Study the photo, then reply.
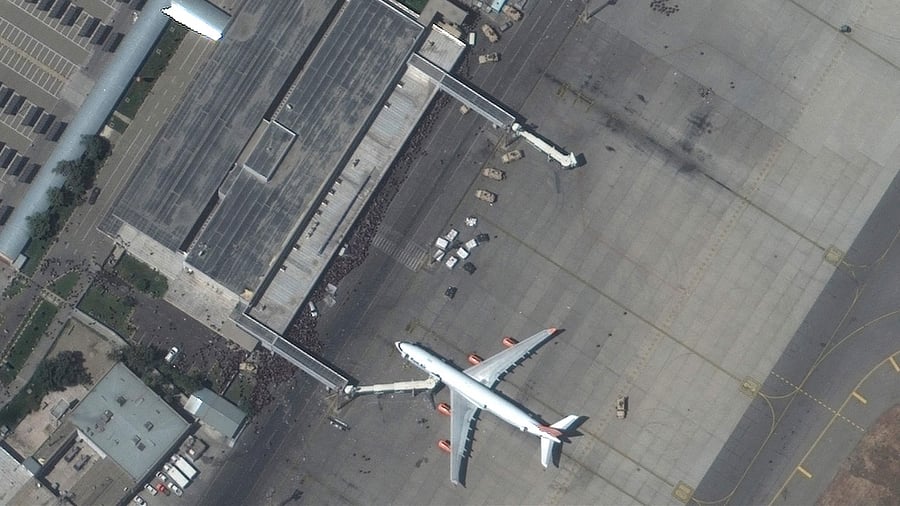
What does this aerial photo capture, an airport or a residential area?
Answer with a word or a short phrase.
airport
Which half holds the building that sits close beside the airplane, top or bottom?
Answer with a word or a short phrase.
top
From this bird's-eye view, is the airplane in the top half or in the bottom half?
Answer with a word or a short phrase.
bottom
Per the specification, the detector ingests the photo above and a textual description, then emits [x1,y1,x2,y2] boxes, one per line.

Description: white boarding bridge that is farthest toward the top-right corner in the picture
[511,124,578,168]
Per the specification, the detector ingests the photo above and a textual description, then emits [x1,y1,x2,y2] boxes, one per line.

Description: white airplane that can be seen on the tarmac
[395,329,579,486]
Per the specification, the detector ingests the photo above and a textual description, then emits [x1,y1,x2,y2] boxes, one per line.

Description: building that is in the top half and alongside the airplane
[97,0,467,354]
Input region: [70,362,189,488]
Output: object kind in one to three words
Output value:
building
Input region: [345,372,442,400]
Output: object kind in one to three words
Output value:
jet bridge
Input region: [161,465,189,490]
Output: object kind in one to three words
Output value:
truck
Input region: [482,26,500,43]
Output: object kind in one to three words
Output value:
vehicle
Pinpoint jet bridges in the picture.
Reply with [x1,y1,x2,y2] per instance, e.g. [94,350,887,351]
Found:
[511,124,578,168]
[345,372,442,400]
